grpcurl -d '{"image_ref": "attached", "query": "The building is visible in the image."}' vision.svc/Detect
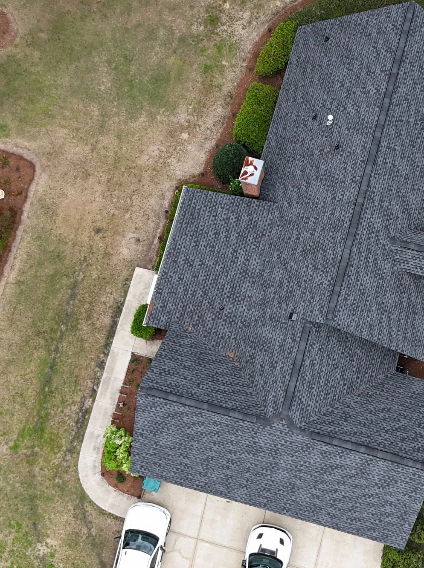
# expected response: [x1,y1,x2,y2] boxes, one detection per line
[130,0,424,548]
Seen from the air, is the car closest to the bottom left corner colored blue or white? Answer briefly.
white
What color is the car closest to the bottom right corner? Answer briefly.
white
